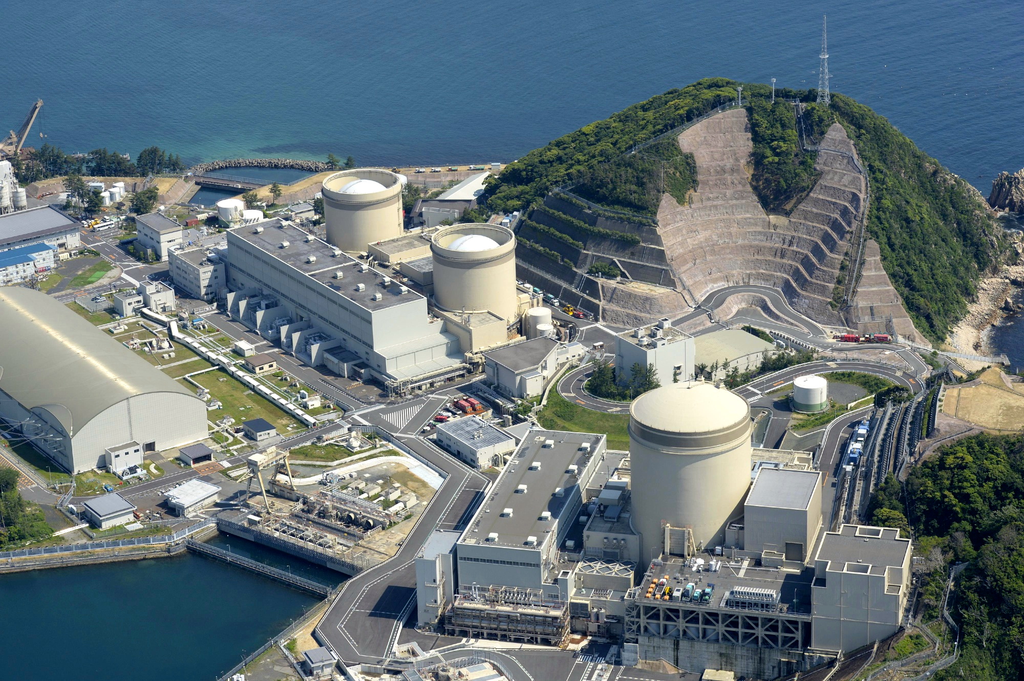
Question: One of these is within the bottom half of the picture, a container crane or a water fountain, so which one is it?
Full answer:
What appears within the bottom half of the picture is a container crane.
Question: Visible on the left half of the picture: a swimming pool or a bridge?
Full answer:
What appears on the left half of the picture is a bridge.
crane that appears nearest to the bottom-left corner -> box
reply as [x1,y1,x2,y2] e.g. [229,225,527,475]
[235,442,298,514]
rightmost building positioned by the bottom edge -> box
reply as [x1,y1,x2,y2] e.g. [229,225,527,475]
[811,524,911,660]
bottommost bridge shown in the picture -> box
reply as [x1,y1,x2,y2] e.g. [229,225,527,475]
[190,540,334,601]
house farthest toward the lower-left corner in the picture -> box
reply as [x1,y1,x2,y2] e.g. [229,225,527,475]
[81,493,137,529]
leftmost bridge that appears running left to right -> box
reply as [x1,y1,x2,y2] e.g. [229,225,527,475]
[175,170,261,198]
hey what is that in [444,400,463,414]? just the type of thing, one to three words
vehicle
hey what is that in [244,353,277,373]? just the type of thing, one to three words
building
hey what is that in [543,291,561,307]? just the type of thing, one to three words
vehicle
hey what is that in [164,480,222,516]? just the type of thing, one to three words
house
